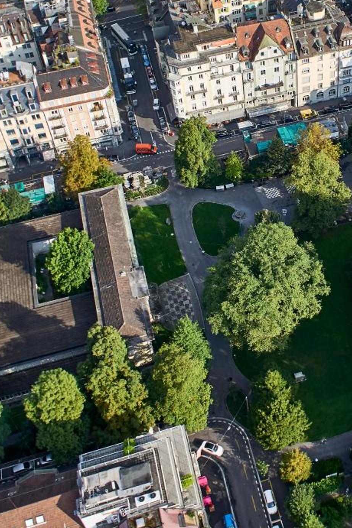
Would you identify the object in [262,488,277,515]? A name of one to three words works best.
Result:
car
